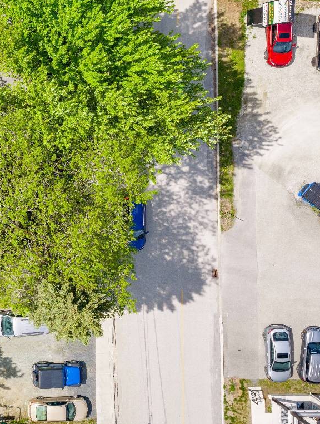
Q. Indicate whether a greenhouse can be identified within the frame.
No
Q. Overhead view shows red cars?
Yes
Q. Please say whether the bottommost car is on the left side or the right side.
left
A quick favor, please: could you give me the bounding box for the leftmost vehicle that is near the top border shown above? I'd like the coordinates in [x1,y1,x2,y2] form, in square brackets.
[263,20,296,71]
